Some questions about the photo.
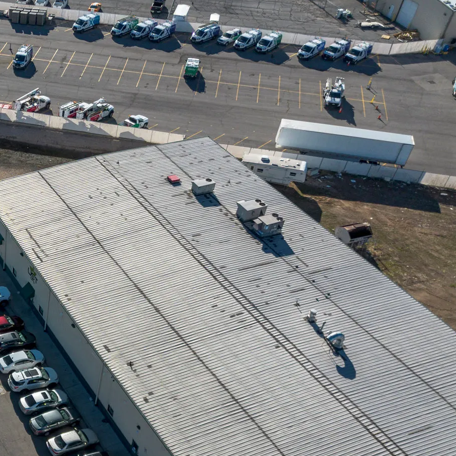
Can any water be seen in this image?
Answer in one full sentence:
No, the scene doesn't show any water.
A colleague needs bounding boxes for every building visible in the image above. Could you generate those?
[367,0,456,38]
[0,139,456,456]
